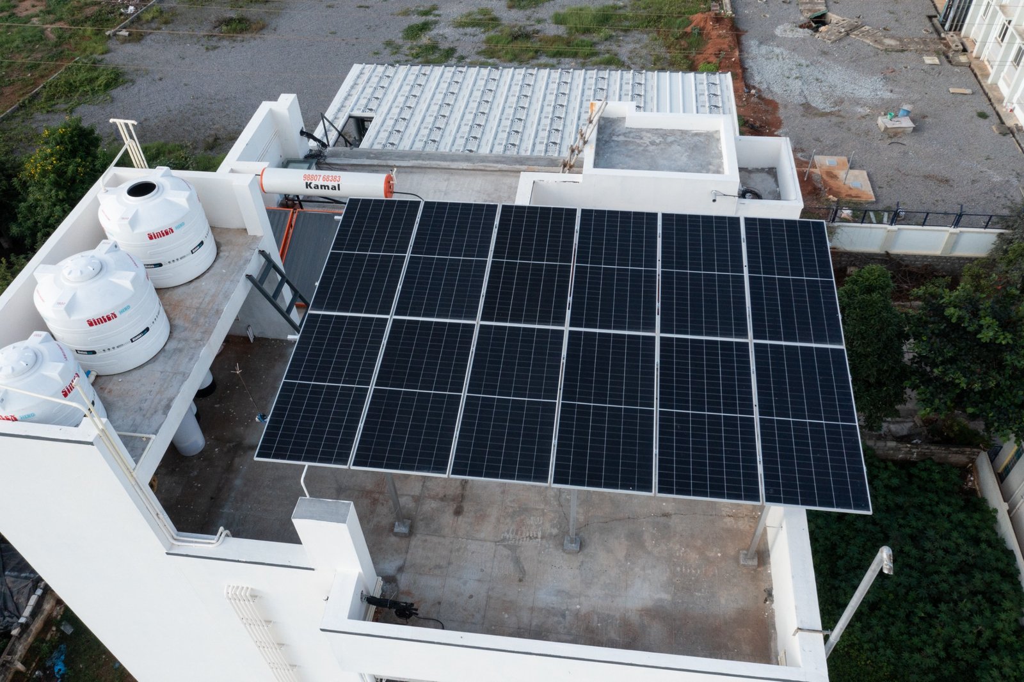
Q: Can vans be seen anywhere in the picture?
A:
No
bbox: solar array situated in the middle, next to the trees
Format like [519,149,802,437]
[256,198,872,571]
